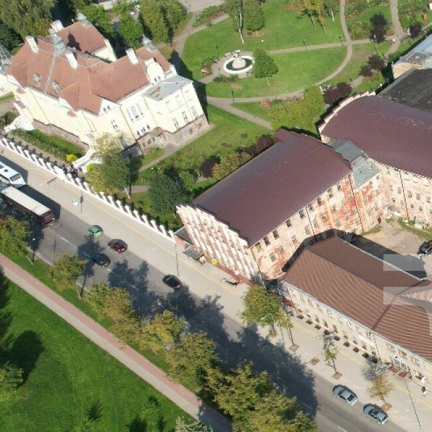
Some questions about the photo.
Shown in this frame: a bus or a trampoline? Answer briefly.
bus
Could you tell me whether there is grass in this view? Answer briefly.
Yes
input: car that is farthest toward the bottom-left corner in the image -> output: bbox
[90,251,112,269]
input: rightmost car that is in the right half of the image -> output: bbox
[417,239,432,259]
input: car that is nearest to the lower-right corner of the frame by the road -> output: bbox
[361,403,389,426]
